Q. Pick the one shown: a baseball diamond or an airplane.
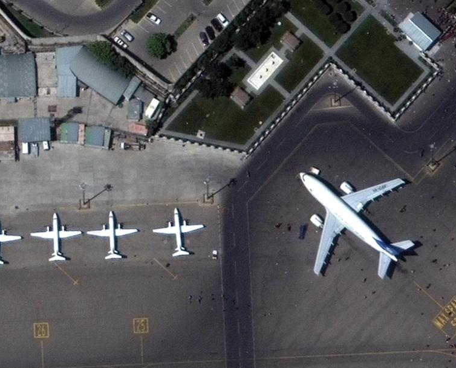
airplane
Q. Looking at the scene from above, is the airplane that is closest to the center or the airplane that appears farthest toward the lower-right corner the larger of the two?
the airplane that appears farthest toward the lower-right corner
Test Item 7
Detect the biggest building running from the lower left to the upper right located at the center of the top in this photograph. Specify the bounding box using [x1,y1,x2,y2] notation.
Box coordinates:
[247,51,284,92]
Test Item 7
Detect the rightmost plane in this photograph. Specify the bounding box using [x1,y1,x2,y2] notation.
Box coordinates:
[299,173,414,277]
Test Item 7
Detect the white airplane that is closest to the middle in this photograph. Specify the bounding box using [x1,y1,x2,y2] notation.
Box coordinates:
[153,207,204,254]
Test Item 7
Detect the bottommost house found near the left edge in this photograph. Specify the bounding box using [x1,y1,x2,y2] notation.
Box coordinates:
[0,142,15,163]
